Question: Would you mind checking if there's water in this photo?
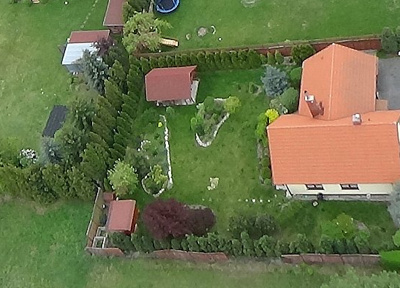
No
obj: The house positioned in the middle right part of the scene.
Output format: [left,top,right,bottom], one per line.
[272,40,400,201]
